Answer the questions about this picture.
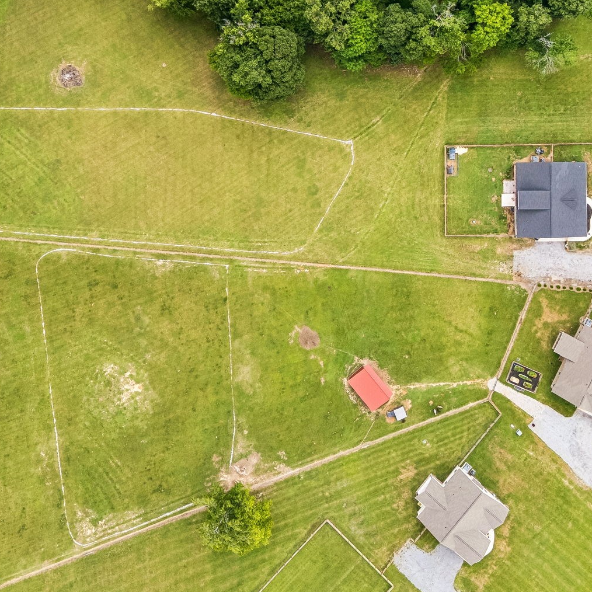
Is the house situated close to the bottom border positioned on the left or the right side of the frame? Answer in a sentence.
You can find the house situated close to the bottom border on the right side of the picture.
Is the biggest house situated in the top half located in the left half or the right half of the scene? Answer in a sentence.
You can find the biggest house situated in the top half on the right side of the picture.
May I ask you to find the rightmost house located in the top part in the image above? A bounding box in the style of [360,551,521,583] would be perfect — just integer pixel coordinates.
[515,162,588,238]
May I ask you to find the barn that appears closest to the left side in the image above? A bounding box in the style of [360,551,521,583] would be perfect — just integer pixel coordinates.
[349,364,392,411]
